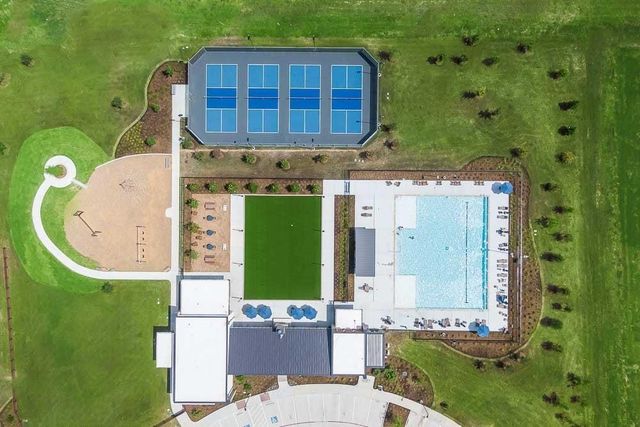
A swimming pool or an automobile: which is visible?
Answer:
swimming pool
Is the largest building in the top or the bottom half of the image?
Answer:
bottom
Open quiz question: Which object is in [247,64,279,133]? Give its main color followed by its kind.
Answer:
blue sports court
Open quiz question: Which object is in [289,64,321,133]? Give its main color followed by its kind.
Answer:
blue sports court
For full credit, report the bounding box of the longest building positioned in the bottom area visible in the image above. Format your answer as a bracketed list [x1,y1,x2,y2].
[156,277,385,403]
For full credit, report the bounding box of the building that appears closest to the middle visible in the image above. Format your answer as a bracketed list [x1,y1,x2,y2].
[354,228,376,276]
